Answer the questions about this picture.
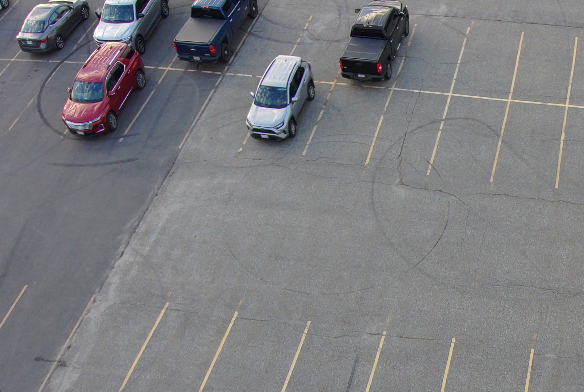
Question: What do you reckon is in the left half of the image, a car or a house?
car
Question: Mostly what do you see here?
paved ground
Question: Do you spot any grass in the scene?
No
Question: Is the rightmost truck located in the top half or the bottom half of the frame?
top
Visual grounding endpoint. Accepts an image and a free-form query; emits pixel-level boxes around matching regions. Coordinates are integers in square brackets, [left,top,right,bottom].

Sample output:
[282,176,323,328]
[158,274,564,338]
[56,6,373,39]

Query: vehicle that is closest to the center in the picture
[246,54,313,143]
